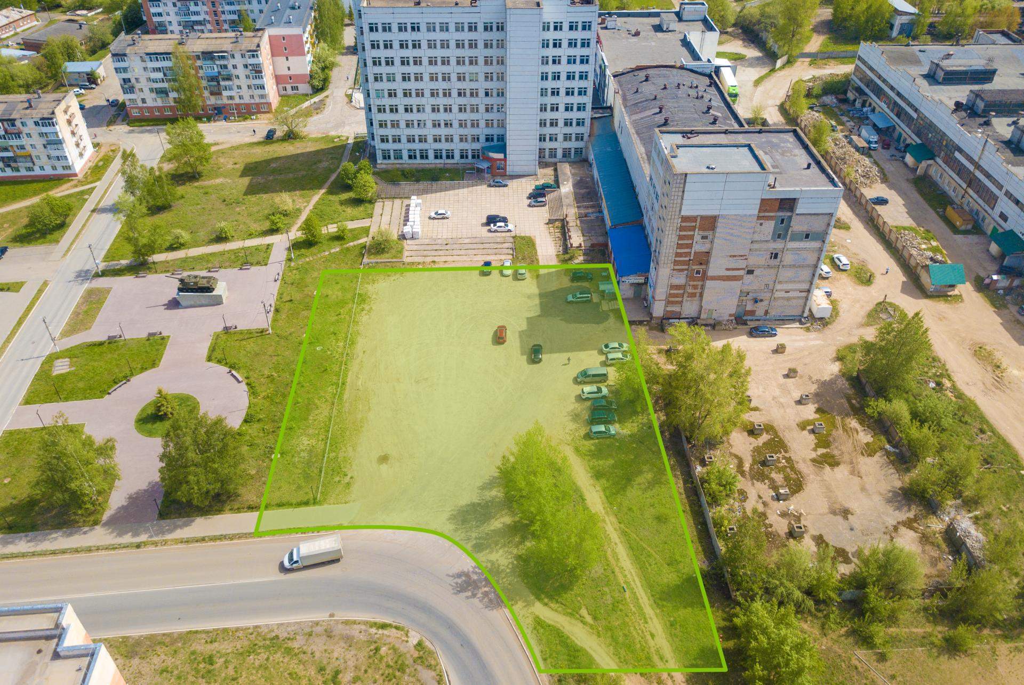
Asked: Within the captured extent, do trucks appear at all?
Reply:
Yes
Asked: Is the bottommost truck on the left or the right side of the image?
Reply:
left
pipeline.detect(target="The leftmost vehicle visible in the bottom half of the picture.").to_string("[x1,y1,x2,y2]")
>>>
[284,530,345,567]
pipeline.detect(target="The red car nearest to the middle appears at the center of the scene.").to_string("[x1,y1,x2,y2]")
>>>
[495,327,507,344]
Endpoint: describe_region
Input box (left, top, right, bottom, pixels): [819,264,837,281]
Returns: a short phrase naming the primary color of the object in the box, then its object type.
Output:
white car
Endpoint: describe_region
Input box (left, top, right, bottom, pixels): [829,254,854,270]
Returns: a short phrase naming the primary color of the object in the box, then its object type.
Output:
white car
